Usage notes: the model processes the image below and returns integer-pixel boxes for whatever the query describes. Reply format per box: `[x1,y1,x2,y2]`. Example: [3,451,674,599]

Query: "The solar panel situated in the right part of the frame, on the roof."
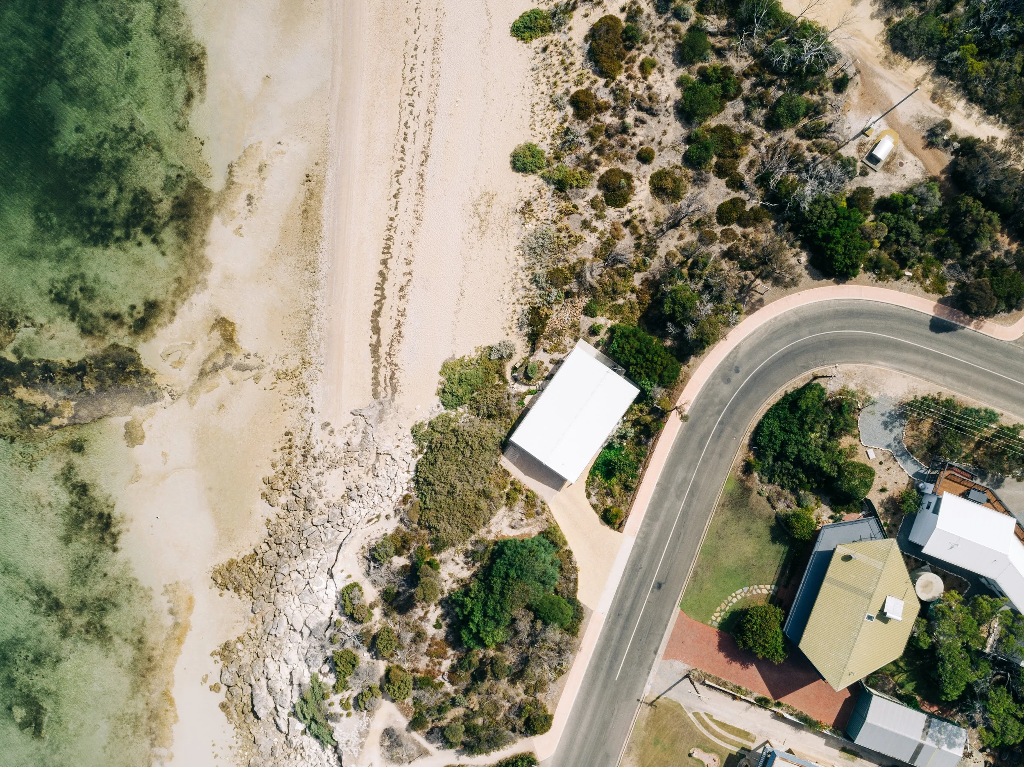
[876,588,908,623]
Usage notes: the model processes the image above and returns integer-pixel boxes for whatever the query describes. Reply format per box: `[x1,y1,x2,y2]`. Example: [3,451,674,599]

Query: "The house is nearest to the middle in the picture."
[510,338,641,484]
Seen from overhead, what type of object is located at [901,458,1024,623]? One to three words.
house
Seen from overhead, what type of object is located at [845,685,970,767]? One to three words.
shed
